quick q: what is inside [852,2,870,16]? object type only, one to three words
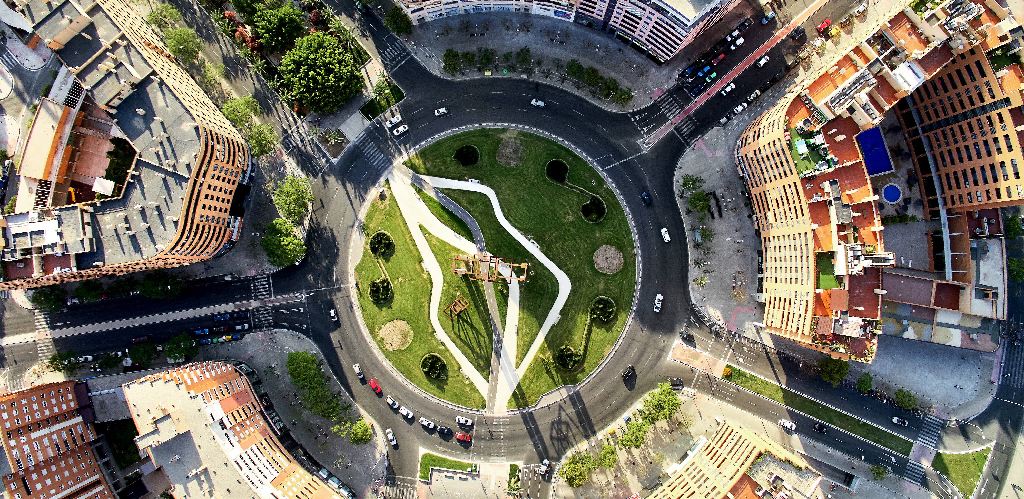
vehicle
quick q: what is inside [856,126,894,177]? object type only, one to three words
swimming pool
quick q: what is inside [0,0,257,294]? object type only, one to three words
building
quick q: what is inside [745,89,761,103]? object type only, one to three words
car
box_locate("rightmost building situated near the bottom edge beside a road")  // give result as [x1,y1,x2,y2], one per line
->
[665,422,824,499]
